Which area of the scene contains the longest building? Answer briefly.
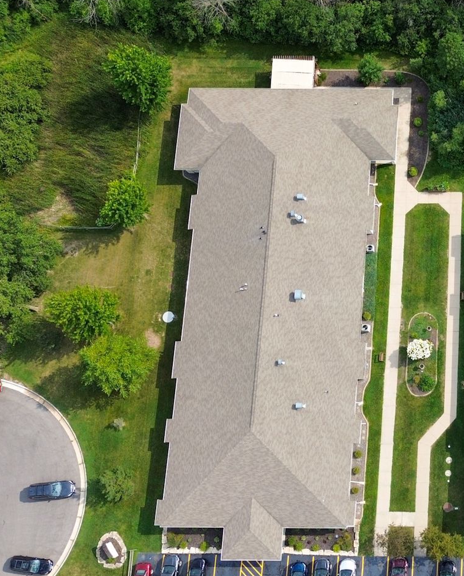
center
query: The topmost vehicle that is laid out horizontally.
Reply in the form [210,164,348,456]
[27,480,77,501]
